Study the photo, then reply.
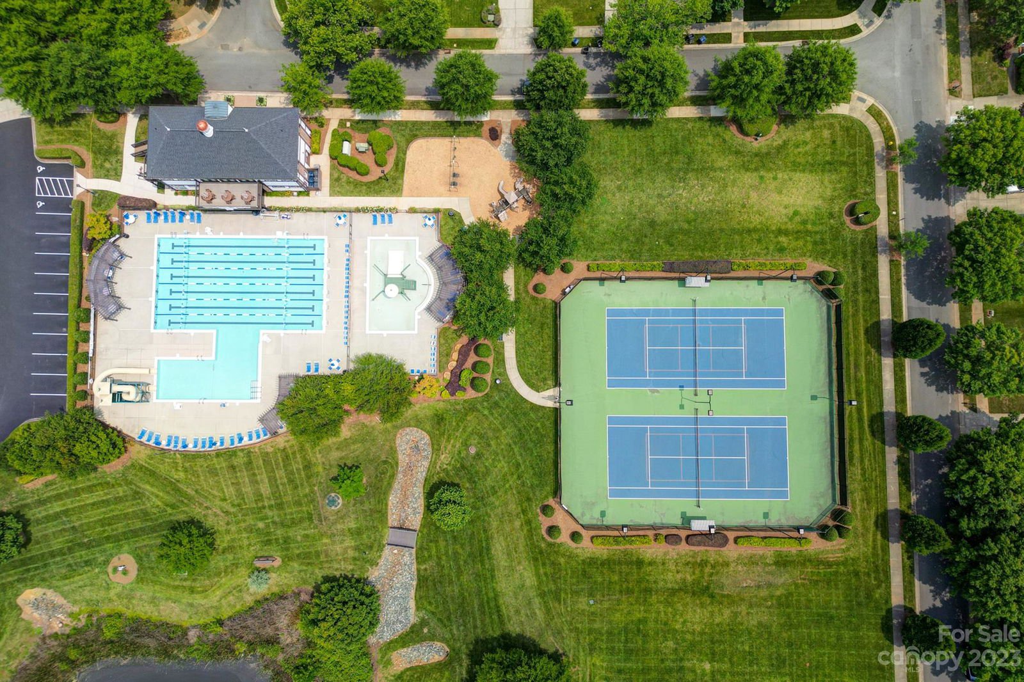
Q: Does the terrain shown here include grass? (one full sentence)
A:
Yes, some grass is visible.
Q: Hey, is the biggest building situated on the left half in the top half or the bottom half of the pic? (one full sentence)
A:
The biggest building situated on the left half sits in the top half of the picture.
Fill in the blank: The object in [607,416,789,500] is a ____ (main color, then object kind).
blue tennis court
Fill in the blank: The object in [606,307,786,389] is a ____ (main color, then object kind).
blue tennis court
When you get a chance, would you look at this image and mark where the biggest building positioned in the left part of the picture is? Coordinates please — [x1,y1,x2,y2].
[131,99,311,213]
